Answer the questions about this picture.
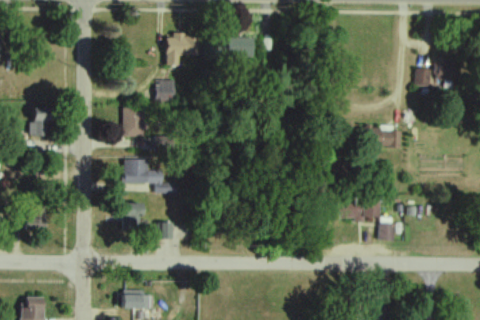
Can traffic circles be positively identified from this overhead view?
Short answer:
No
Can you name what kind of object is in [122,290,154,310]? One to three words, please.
house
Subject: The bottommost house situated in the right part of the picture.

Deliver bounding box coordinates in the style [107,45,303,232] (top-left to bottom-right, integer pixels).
[377,214,394,240]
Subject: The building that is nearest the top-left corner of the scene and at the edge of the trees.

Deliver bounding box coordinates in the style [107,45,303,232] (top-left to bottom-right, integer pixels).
[29,109,46,136]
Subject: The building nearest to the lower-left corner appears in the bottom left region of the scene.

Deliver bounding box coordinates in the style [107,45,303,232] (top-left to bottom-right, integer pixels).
[21,297,45,320]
